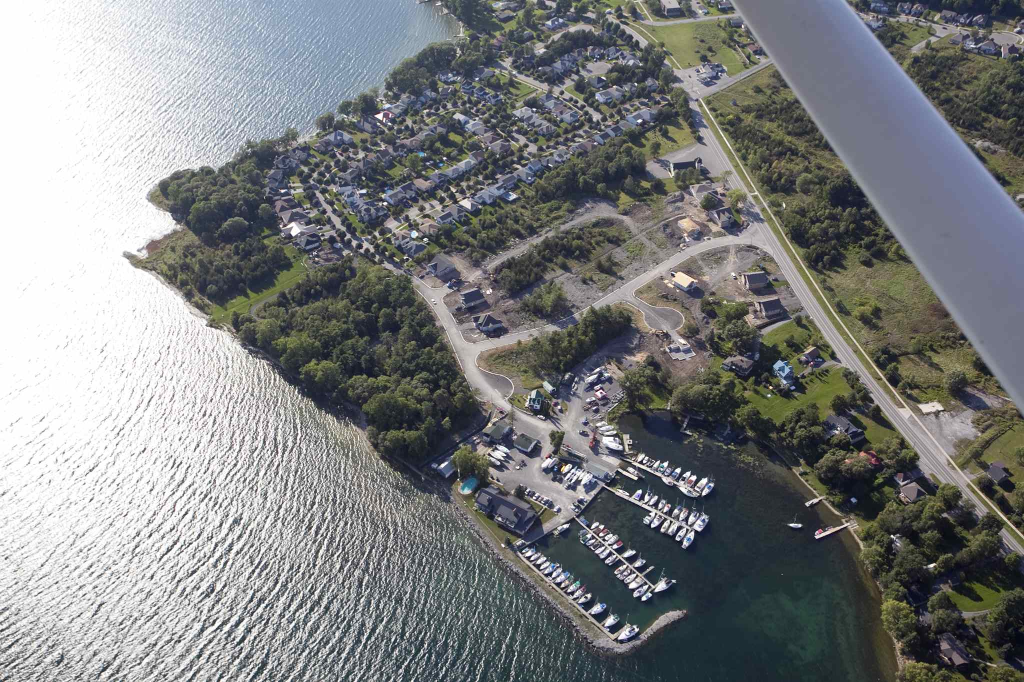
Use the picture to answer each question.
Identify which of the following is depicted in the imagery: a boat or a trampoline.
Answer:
boat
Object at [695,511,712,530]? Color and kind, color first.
white boat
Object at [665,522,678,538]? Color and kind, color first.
white boat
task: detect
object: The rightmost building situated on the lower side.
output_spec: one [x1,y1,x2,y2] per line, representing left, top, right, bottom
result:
[981,462,1012,489]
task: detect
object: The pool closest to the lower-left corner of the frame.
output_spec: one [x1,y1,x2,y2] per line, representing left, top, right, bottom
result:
[455,476,482,497]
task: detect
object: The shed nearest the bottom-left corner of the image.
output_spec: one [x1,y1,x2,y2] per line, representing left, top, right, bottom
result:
[430,458,463,485]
